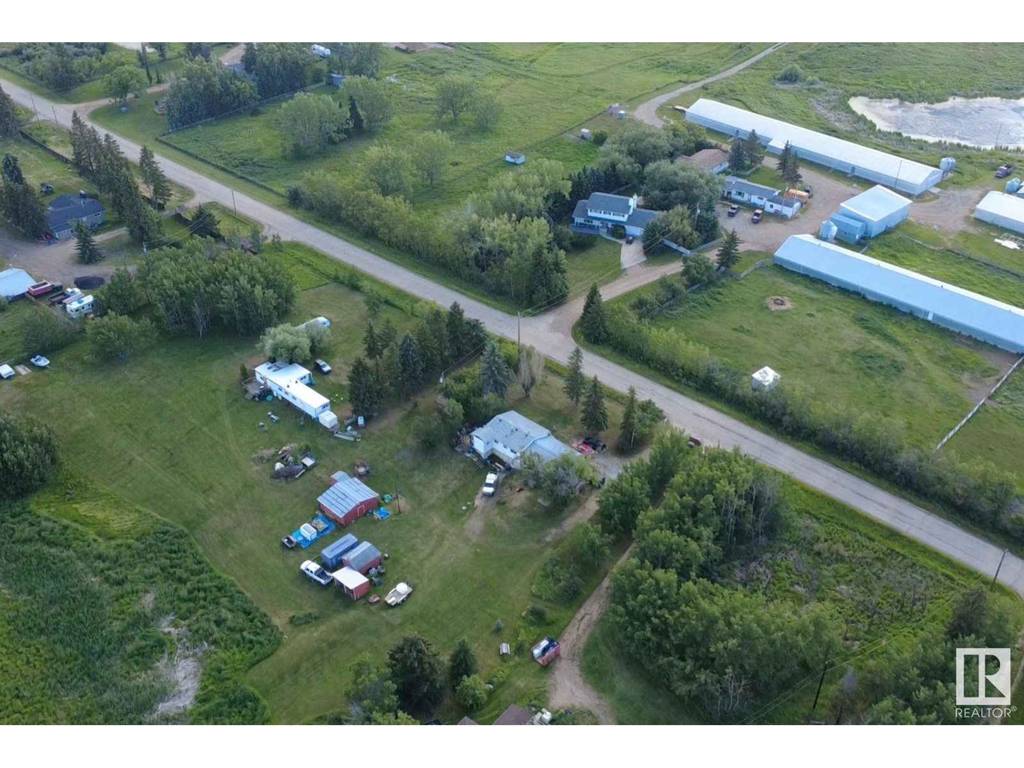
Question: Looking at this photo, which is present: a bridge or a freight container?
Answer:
freight container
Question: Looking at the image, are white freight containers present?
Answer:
No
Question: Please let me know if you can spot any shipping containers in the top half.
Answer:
No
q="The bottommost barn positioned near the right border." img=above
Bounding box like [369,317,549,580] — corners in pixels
[772,232,1024,355]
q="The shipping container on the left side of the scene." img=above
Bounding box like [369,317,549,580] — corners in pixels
[322,533,354,568]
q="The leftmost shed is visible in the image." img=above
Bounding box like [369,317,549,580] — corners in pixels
[0,260,38,303]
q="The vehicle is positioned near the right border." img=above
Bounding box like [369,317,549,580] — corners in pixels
[996,161,1017,176]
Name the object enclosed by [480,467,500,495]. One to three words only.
vehicle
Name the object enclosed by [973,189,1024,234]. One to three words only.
barn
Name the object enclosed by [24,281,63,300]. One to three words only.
vehicle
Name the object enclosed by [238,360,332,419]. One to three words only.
house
